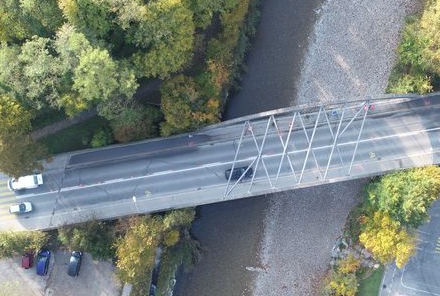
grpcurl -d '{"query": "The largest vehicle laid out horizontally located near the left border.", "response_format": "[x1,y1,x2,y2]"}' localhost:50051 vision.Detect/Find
[11,175,43,190]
